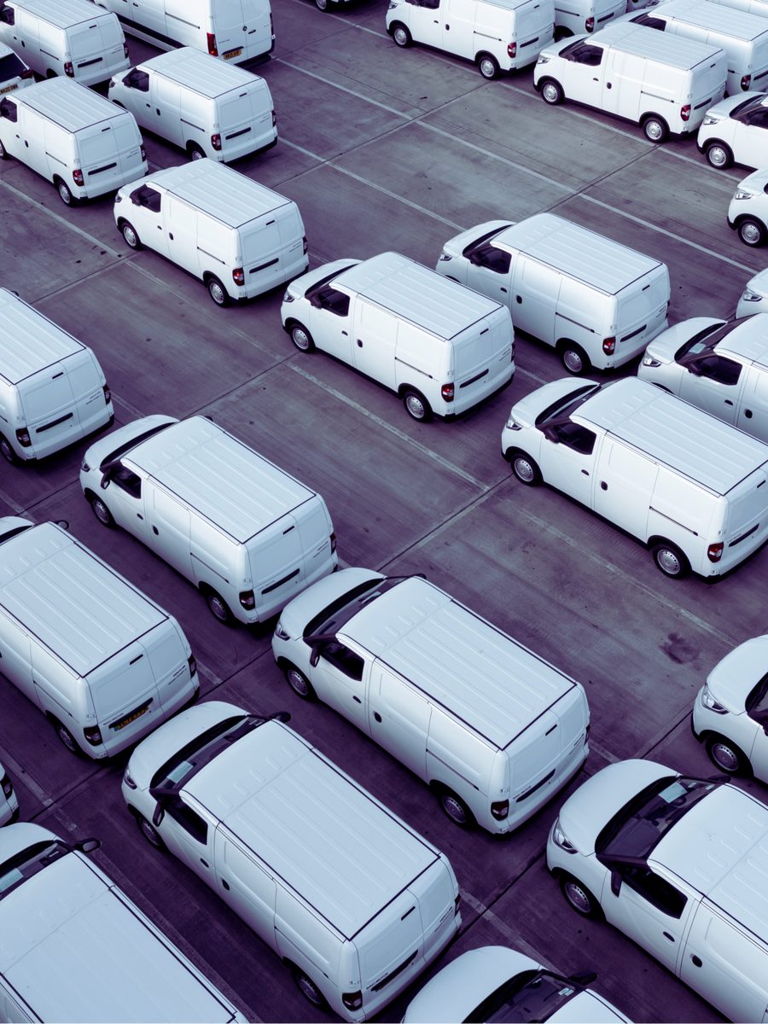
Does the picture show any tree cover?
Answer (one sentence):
No, the scene doesn't show any tree cover.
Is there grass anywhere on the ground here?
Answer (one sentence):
No, the picture contains no grass.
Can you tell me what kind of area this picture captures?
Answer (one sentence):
This image shows a parking lot.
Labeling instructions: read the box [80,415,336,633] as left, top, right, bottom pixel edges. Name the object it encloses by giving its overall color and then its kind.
white van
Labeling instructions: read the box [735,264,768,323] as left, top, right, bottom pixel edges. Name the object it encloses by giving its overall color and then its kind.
white van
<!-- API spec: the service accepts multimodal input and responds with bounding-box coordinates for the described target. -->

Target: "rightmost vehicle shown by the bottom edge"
[545,760,768,1024]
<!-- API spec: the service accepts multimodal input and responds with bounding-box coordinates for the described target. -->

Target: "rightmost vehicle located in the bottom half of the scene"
[692,636,768,792]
